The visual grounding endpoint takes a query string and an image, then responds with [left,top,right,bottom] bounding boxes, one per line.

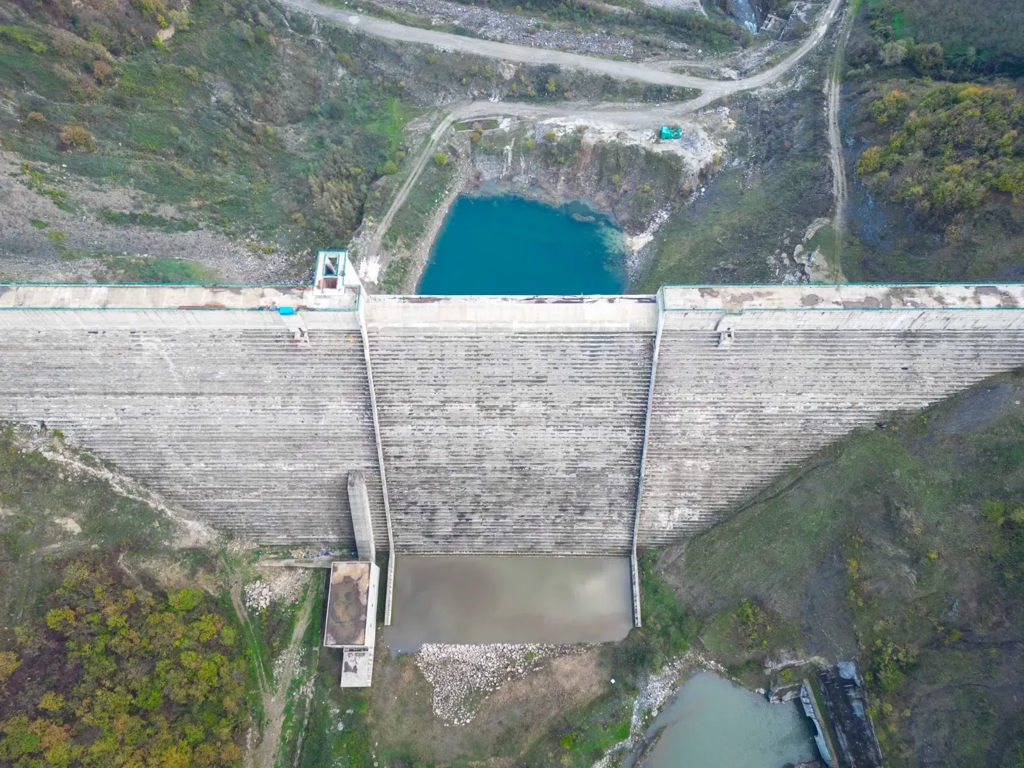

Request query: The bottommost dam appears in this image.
[0,284,1024,560]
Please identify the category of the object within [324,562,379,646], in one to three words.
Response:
building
